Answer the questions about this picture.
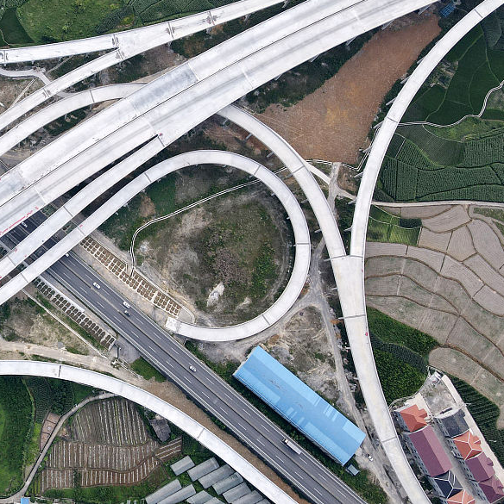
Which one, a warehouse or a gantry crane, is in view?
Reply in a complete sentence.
Looking from above, you can make out a warehouse.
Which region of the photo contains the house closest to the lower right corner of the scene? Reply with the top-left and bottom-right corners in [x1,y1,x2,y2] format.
[469,476,504,503]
